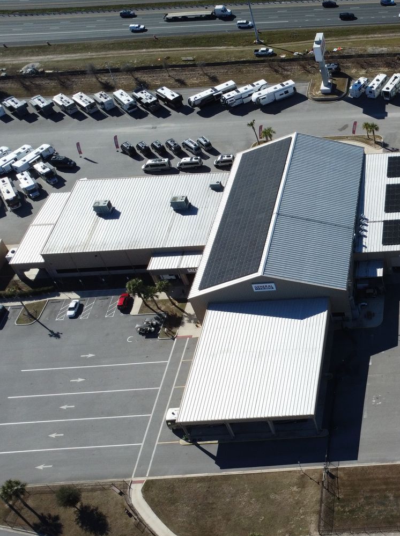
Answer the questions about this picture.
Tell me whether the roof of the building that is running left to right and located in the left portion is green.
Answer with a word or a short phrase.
No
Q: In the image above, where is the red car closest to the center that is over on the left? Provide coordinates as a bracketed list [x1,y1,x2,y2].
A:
[117,293,131,310]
